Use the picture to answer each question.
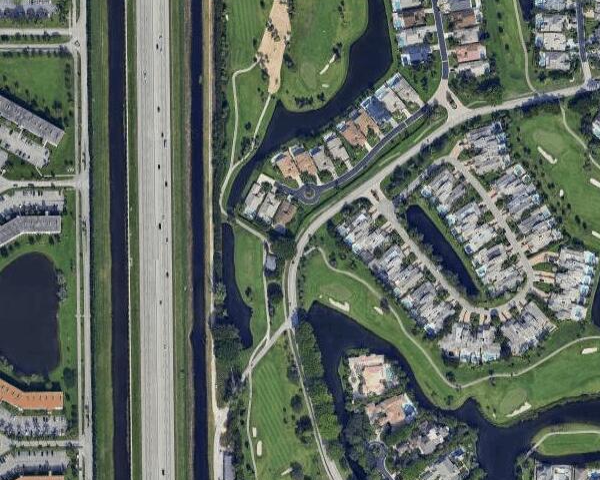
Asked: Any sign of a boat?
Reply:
No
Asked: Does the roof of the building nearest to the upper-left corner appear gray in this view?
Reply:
Yes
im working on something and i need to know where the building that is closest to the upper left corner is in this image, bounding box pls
[0,94,64,145]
